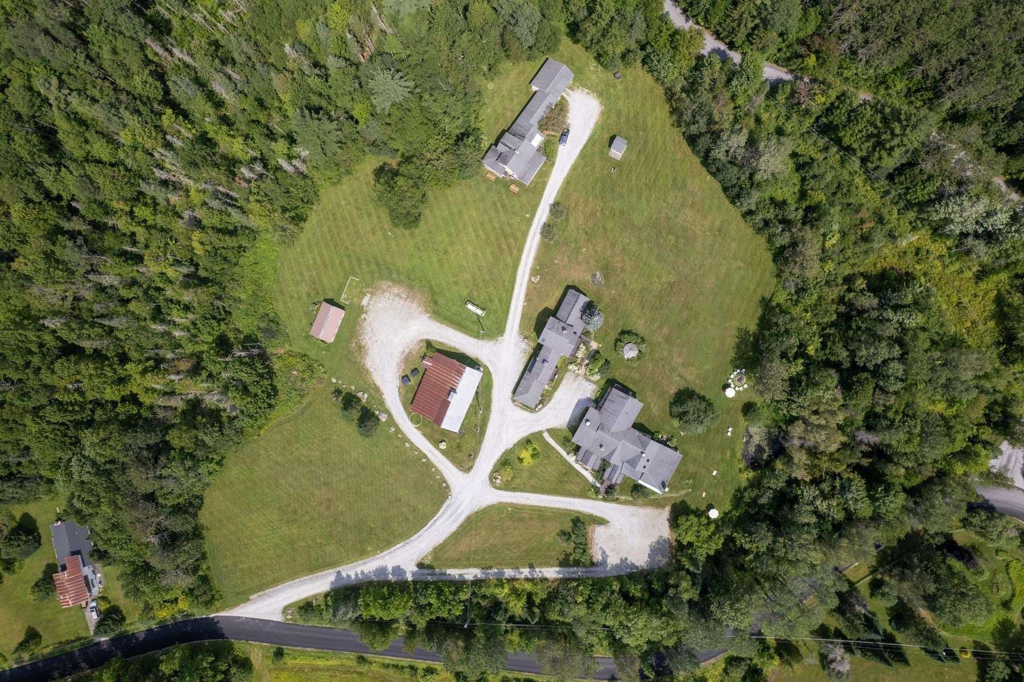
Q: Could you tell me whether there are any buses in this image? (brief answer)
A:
No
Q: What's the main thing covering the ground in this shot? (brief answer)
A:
trees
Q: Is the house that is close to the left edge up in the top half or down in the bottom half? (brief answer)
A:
bottom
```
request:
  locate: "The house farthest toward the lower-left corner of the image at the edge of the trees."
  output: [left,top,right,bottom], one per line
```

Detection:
[51,516,104,608]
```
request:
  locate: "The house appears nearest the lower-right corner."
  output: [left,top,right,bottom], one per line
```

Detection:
[571,384,683,496]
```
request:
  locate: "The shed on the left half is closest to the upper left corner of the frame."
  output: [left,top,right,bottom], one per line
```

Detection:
[310,302,346,343]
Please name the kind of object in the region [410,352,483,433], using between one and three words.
barn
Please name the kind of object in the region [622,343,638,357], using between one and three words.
gazebo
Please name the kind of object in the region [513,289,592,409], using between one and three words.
house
